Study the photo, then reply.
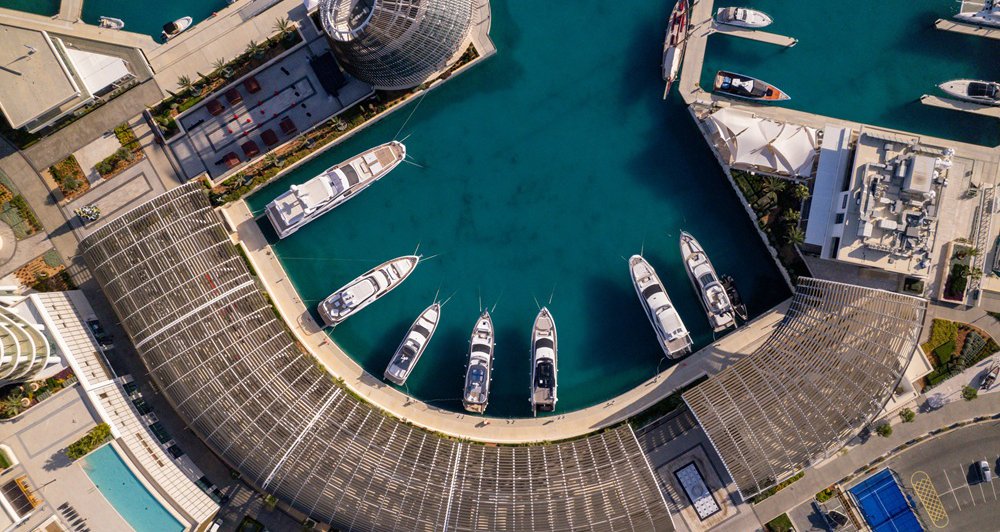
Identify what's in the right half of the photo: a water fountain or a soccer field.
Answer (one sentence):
You can see a water fountain in the right half of the photo.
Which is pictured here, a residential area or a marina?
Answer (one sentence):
It's a marina.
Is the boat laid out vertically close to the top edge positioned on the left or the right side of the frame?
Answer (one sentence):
The boat laid out vertically close to the top edge sits on the right side.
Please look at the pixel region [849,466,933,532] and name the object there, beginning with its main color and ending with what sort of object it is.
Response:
blue sports court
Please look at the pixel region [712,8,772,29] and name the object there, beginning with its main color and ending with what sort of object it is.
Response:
white boat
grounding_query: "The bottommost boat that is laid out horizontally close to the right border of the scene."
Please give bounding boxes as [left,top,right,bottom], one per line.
[935,80,1000,106]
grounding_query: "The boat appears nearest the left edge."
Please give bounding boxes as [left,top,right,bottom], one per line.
[98,17,125,29]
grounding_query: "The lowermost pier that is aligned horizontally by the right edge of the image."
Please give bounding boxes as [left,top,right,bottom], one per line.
[917,95,1000,119]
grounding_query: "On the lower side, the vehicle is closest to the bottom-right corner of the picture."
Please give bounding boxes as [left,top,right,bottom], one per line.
[978,460,992,481]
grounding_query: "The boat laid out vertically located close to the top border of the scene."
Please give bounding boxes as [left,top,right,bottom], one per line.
[662,0,694,99]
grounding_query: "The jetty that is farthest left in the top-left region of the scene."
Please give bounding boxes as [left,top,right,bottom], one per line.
[59,0,88,22]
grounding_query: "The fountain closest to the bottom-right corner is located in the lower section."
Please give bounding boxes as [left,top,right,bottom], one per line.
[675,462,721,519]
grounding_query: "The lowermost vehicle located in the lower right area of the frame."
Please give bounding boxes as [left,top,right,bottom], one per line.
[827,511,849,526]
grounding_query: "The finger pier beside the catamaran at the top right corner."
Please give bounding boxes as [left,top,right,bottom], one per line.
[932,19,1000,41]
